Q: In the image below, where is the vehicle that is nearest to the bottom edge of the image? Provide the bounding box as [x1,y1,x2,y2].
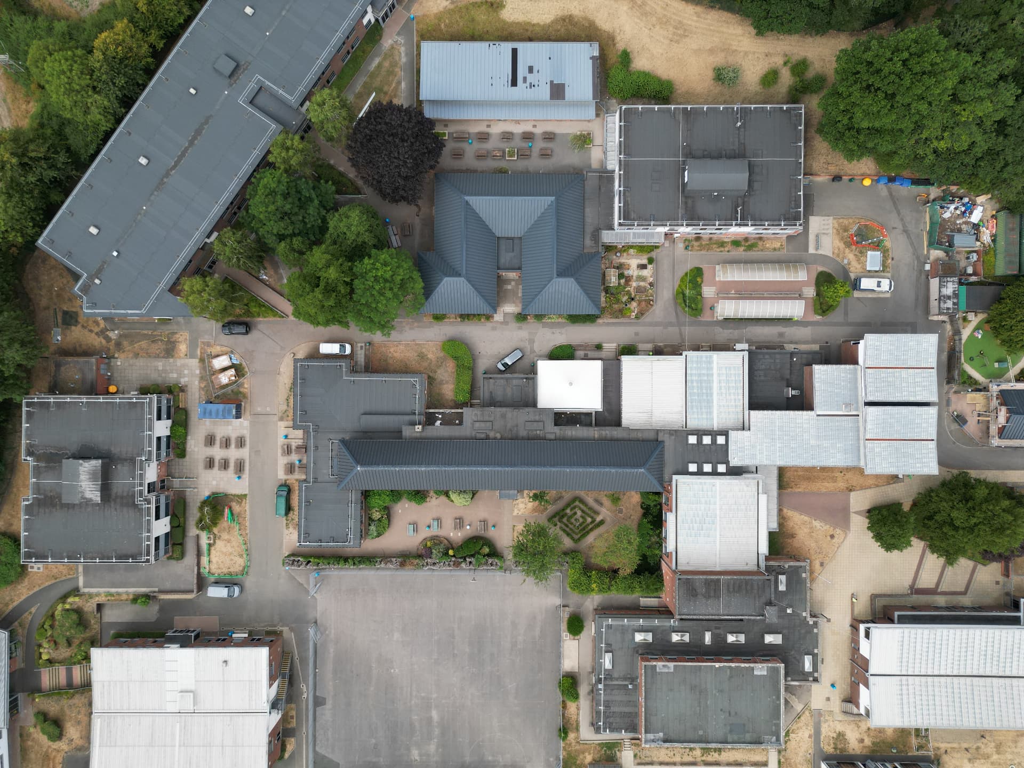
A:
[208,582,244,598]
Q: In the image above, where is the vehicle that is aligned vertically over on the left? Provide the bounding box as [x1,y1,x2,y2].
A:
[276,483,291,516]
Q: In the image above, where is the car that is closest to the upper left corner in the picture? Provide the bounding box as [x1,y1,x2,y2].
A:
[224,321,251,336]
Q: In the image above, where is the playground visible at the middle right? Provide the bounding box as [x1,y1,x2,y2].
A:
[965,328,1024,378]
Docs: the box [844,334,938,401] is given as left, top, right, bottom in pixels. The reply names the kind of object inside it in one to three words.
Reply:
building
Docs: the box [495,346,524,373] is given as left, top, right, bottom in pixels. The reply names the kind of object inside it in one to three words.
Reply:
car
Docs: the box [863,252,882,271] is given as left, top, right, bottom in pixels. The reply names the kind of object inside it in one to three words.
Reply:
building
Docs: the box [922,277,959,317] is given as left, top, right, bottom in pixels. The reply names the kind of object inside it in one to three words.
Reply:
shed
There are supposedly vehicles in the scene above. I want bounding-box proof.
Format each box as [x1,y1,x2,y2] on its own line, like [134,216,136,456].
[319,341,352,356]
[850,277,889,293]
[224,321,251,336]
[495,346,524,373]
[276,483,291,516]
[208,582,244,598]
